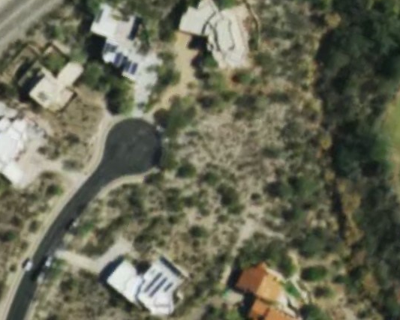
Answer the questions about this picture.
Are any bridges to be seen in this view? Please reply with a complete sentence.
No, the picture doesn't show any bridge.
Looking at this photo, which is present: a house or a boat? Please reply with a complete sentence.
It is a house that can be seen here.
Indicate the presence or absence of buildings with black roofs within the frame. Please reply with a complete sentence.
No, the photo shows no building with a black roof.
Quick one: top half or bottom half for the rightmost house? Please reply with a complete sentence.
Seen from above, the rightmost house lies in the bottom half of the view.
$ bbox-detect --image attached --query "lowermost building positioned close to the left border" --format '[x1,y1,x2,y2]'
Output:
[0,117,30,188]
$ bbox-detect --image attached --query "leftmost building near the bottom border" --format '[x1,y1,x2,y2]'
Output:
[108,258,183,318]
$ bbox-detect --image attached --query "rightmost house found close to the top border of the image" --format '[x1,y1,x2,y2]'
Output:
[179,0,249,70]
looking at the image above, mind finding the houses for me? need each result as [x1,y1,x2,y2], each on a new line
[90,4,145,81]
[29,62,83,113]
[237,264,300,320]
[108,258,183,318]
[0,117,30,188]
[179,0,249,70]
